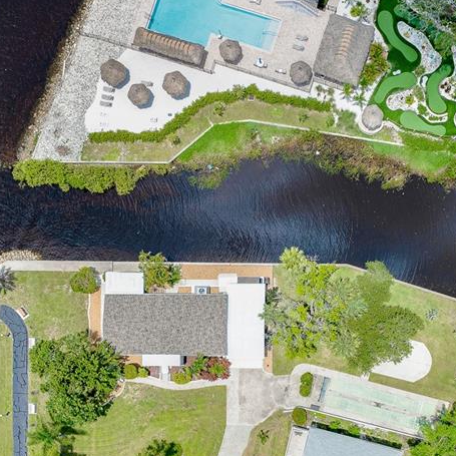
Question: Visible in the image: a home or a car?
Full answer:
It is a home that can be seen here.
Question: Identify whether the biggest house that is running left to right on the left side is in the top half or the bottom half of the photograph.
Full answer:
The bottom half of the photo is where the biggest house that is running left to right on the left side is.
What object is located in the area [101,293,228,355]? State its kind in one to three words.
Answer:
house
